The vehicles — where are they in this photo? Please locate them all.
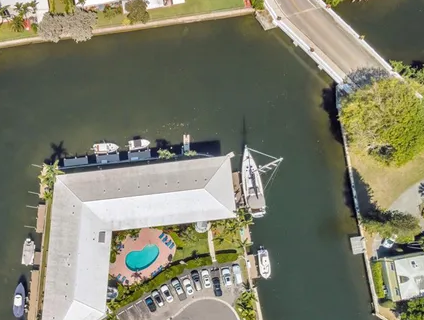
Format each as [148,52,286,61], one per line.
[201,269,211,289]
[182,277,193,297]
[161,282,173,303]
[151,288,164,308]
[211,275,223,298]
[220,267,232,287]
[231,264,243,285]
[145,296,157,313]
[171,277,186,300]
[189,269,203,292]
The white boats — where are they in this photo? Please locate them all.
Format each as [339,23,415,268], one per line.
[242,144,281,219]
[91,142,118,154]
[126,139,149,151]
[22,238,34,265]
[256,245,271,278]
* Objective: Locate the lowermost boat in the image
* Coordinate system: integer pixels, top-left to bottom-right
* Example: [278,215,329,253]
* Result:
[13,283,26,318]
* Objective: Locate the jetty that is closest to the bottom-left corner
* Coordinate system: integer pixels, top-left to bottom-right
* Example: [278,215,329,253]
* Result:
[27,271,39,320]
